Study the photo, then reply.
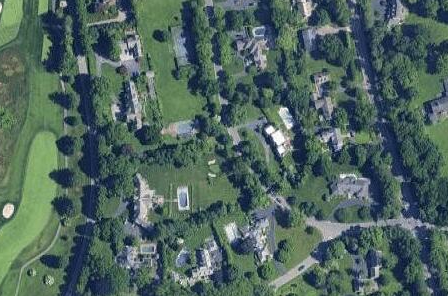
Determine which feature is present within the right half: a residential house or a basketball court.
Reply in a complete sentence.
What appears within the right half is a residential house.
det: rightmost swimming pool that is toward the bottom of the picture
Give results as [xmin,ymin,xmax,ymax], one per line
[224,223,239,243]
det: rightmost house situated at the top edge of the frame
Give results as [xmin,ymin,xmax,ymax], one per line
[387,0,409,27]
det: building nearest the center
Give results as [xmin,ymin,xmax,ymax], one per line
[261,123,292,155]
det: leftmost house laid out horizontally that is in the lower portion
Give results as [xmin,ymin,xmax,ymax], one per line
[113,248,153,268]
